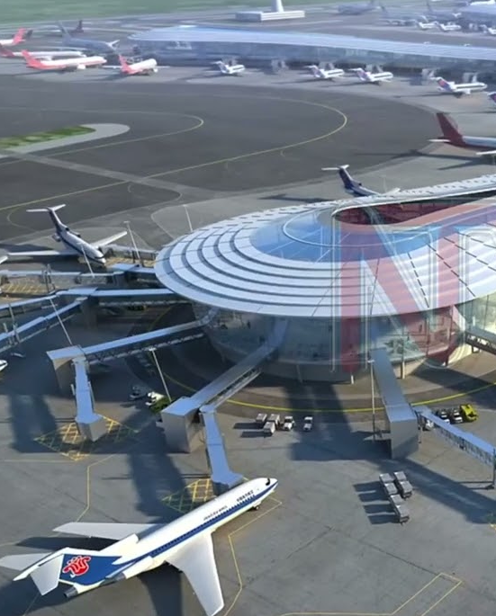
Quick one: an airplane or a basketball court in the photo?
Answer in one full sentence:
Looking from above, you can make out an airplane.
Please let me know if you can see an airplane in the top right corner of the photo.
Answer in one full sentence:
Yes, looking in the top right corner of the photo, one can make out an airplane.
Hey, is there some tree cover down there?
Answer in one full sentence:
No, no tree cover is visible.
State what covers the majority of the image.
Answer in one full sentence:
For the most part, this view shows paved ground.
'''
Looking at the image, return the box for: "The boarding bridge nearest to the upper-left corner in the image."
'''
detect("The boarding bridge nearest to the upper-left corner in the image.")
[227,53,241,67]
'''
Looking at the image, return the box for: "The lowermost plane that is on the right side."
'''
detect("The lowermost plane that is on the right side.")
[324,164,397,197]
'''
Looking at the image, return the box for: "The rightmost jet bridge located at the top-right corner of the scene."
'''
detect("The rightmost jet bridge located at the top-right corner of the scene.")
[462,66,479,84]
